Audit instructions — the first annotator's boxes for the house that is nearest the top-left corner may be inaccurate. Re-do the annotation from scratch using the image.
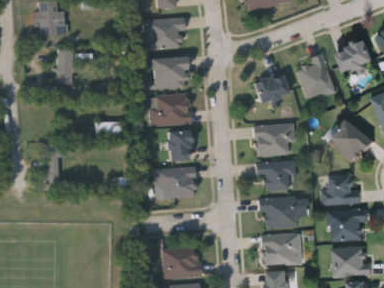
[34,1,68,36]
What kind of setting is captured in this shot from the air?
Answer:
residential area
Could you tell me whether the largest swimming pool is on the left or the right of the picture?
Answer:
right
